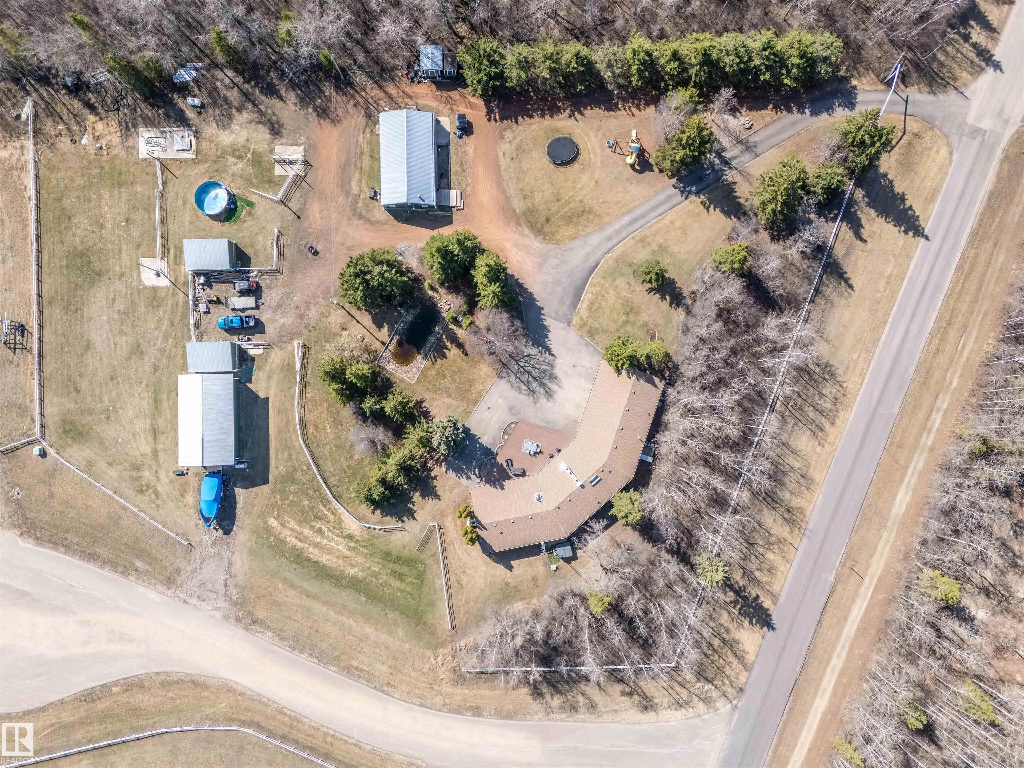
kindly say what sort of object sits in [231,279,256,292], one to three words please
vehicle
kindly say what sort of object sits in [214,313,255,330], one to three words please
vehicle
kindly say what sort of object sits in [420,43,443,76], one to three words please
shed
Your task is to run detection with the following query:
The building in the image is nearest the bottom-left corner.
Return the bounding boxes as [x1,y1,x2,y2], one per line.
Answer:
[177,373,242,472]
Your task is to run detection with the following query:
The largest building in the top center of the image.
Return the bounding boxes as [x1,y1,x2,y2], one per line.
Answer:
[379,109,437,210]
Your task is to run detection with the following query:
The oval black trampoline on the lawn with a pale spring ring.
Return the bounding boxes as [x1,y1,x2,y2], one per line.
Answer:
[546,133,579,163]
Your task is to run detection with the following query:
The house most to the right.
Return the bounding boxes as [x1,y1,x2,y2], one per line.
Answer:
[470,360,665,555]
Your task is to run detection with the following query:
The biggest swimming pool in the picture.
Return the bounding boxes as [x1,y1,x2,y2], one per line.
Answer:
[193,180,233,218]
